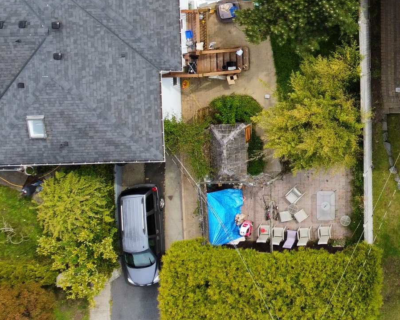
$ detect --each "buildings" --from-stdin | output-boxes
[211,124,255,181]
[0,0,199,171]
